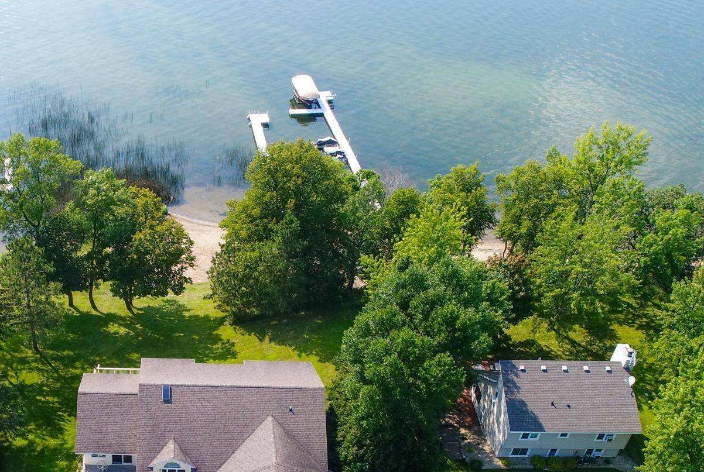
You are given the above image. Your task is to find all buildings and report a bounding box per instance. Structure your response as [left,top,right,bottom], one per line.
[473,336,648,458]
[75,359,328,472]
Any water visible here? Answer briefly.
Yes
